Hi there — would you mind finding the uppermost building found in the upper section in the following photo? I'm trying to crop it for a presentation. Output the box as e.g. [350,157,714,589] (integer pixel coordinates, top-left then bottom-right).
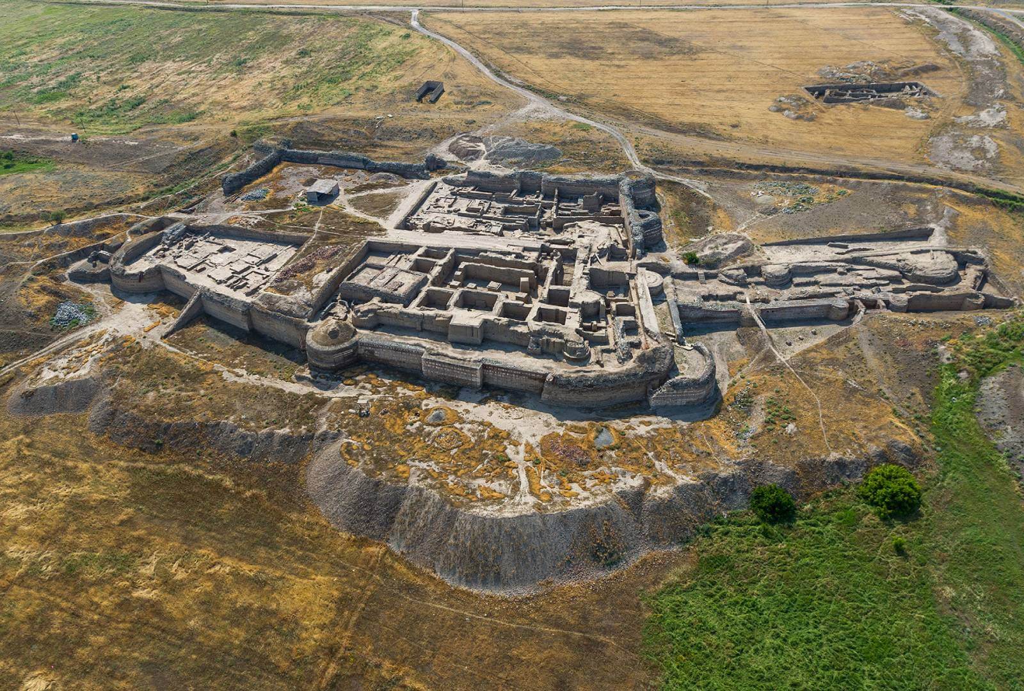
[416,82,444,104]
